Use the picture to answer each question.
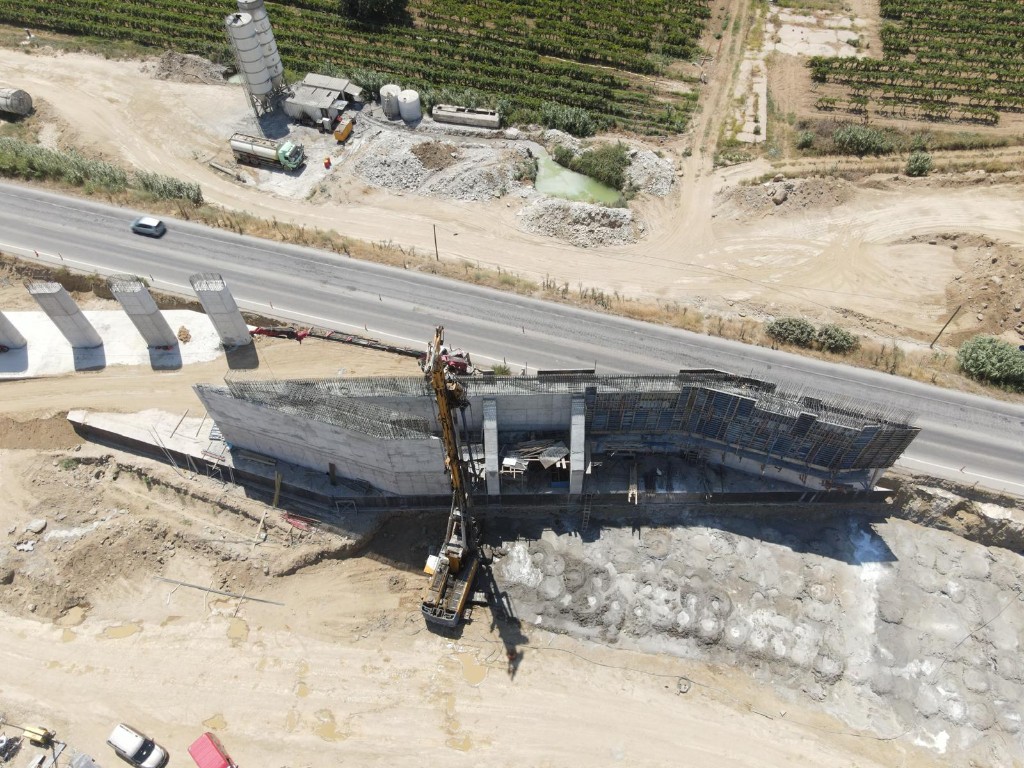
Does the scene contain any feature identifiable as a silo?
Yes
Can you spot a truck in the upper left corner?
Yes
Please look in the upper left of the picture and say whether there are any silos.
Yes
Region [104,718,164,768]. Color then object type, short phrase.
white car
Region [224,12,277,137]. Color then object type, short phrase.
gray silo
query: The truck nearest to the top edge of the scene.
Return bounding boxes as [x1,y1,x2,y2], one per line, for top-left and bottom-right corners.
[228,131,301,168]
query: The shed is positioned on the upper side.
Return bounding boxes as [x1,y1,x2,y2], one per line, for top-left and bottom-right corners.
[276,68,365,128]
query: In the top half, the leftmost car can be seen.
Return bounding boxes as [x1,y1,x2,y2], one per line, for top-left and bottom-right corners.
[129,220,166,240]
